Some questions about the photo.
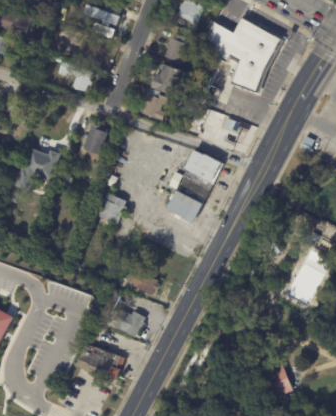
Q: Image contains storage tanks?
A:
No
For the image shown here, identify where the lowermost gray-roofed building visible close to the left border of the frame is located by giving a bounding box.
[16,150,58,190]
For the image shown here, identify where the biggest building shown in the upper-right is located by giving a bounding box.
[208,20,283,91]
